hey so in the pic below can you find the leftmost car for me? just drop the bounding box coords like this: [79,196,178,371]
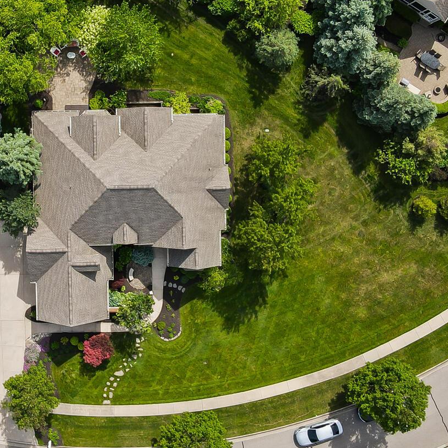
[293,416,344,448]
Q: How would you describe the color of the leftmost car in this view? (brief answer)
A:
white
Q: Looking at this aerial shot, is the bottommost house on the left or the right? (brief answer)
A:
left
